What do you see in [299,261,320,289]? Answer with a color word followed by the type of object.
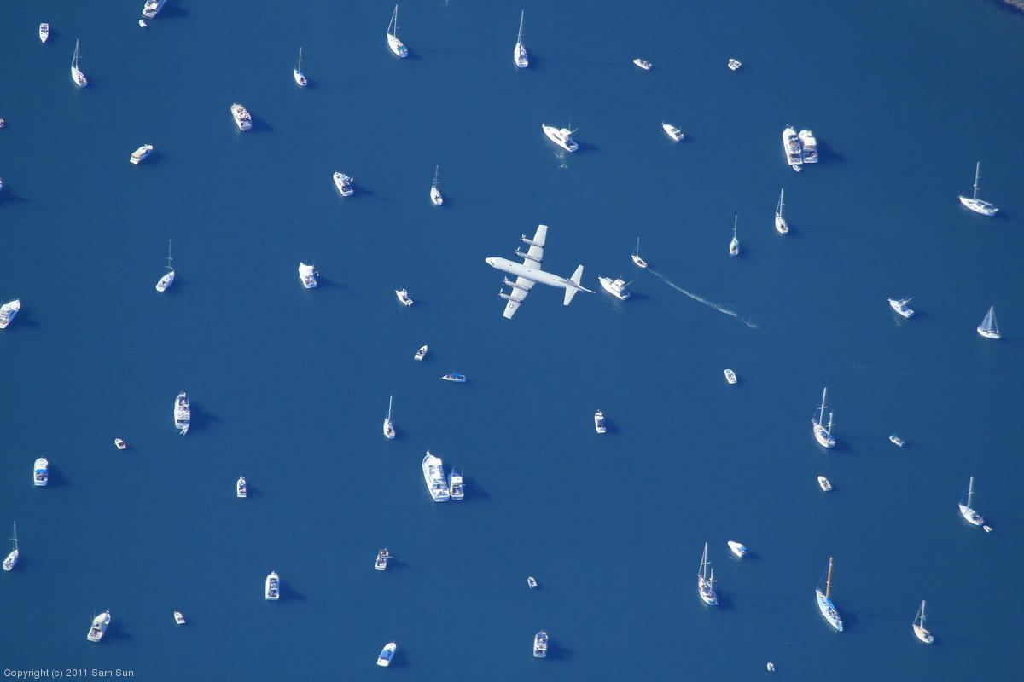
white boat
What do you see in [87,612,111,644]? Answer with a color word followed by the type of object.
white boat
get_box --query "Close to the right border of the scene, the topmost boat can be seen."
[960,162,997,214]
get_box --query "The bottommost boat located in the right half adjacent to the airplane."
[598,275,631,301]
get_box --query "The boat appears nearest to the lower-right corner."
[913,600,934,642]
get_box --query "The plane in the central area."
[486,224,596,318]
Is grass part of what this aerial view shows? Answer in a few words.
No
